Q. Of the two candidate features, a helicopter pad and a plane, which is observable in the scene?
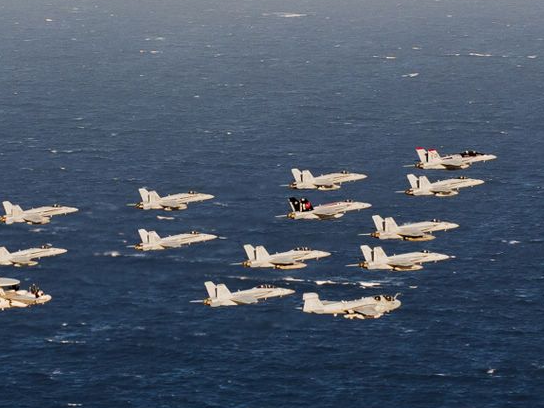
plane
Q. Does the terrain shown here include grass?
No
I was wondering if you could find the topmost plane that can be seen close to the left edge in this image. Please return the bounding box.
[0,201,78,223]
